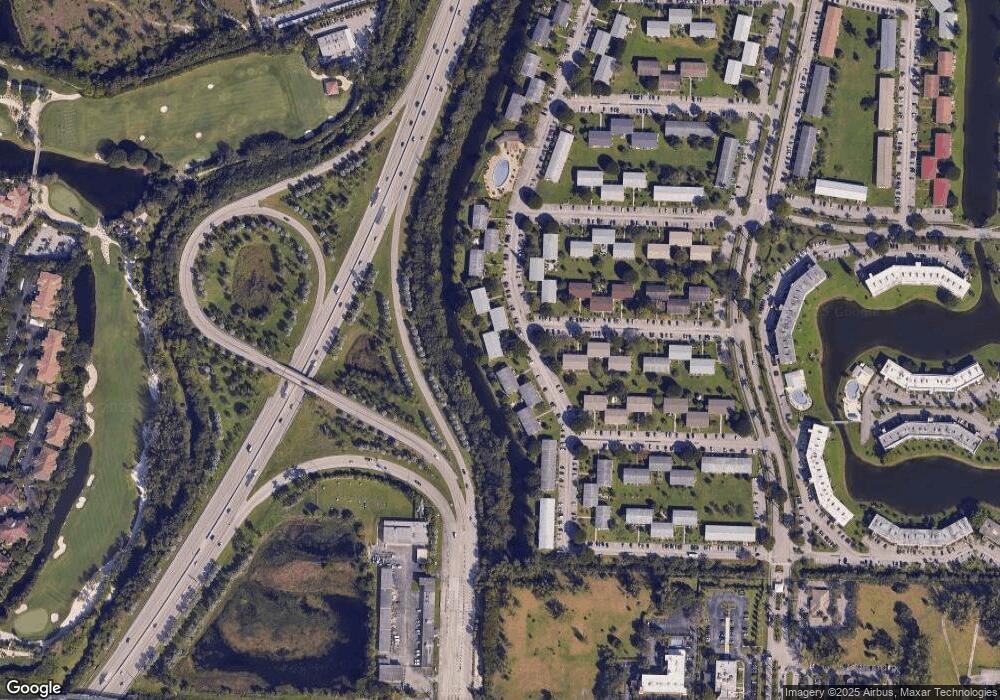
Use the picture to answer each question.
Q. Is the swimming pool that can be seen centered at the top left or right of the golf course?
right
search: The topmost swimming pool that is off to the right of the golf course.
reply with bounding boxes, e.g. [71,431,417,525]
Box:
[484,142,525,198]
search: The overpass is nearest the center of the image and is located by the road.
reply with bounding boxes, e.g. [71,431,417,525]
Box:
[262,356,323,394]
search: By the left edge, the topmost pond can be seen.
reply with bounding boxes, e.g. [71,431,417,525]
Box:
[0,145,147,222]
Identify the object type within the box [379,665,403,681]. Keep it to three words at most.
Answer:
shed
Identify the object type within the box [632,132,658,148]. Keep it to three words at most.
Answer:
building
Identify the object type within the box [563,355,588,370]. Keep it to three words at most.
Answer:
building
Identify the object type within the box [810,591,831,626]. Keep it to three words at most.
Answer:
house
